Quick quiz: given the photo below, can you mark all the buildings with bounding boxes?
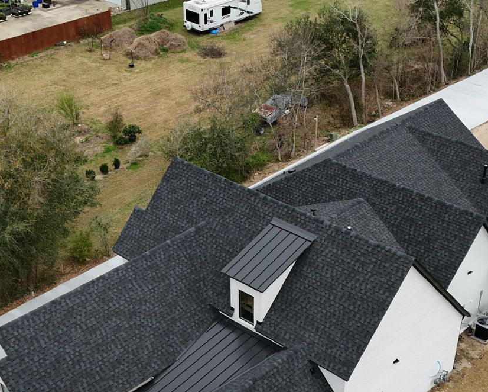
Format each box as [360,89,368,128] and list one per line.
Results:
[0,99,488,392]
[99,0,165,11]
